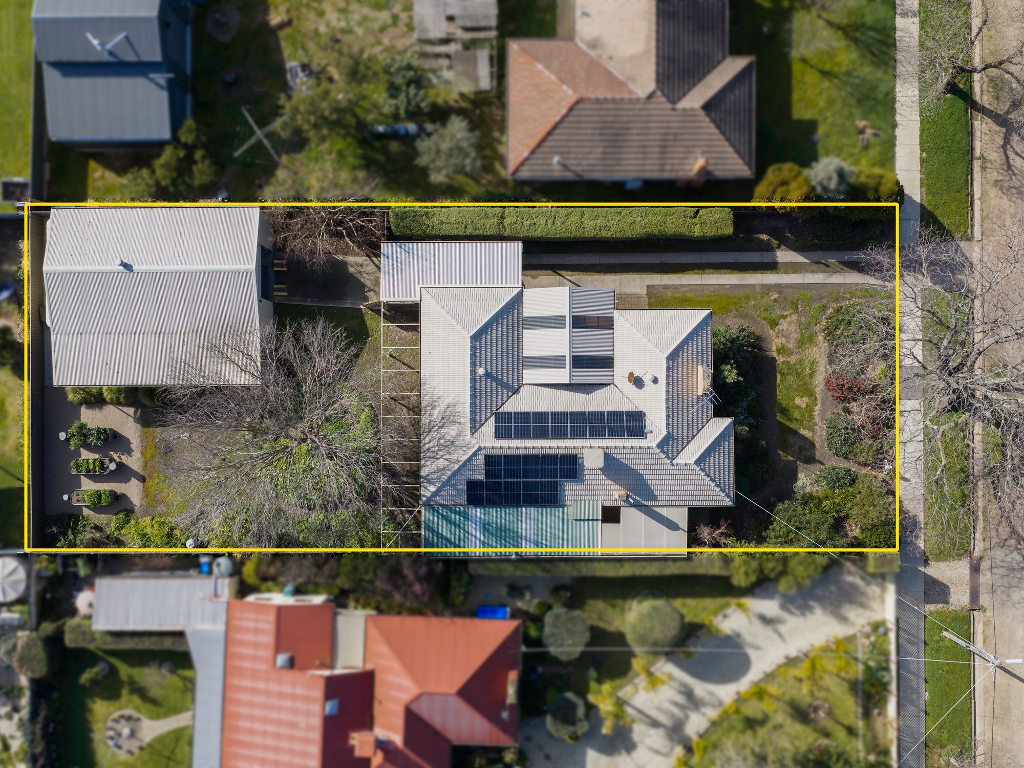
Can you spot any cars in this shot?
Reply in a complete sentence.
No, this view has no car in it.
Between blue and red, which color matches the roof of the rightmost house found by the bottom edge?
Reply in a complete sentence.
The roof of the rightmost house found by the bottom edge is red.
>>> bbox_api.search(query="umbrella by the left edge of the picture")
[0,558,29,598]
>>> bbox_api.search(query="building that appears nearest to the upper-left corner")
[32,0,191,152]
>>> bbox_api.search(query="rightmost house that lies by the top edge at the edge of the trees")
[504,0,758,181]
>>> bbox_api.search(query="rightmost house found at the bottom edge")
[226,594,524,768]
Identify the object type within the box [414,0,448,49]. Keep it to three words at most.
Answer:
shed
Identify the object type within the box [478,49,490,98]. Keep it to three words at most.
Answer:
shed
